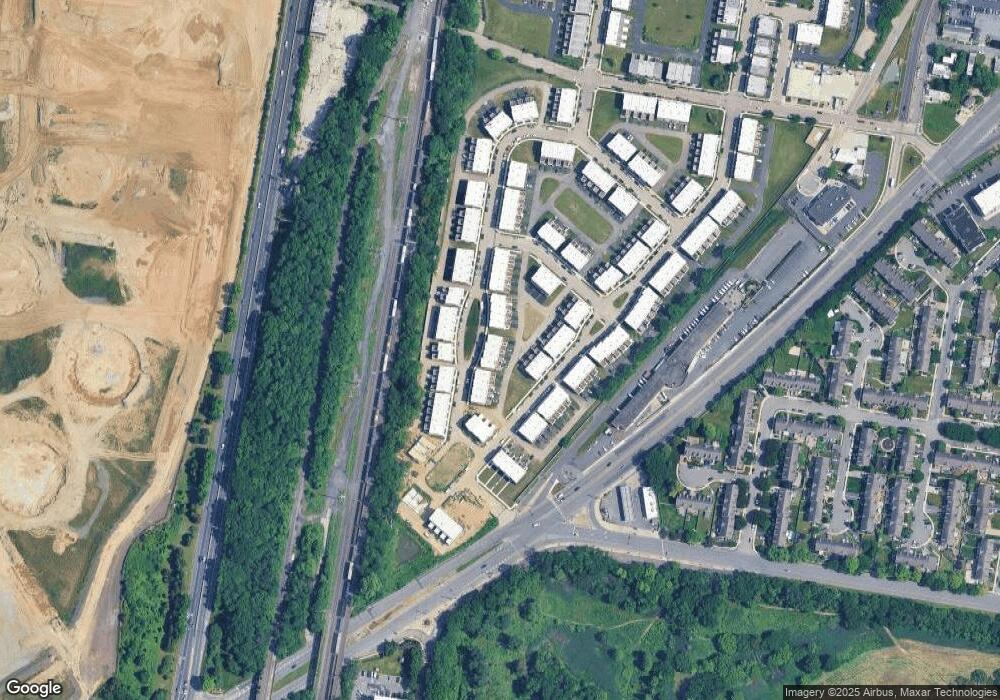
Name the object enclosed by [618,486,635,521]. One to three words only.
shed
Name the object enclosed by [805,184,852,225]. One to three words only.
building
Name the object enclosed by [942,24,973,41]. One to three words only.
building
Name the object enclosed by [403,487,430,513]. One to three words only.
house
